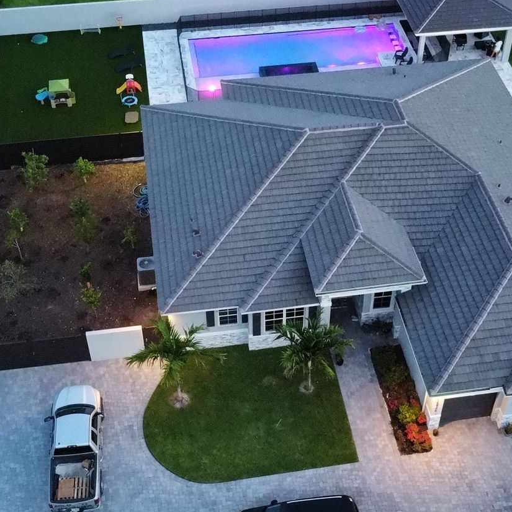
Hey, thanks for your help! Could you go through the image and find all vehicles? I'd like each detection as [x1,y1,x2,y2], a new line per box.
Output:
[241,490,360,512]
[43,386,106,512]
